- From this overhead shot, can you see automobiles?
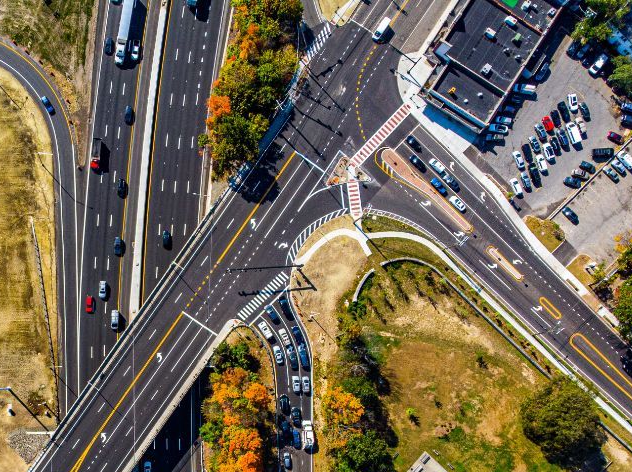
Yes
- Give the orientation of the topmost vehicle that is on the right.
diagonally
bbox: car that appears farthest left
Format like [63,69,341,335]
[41,96,54,113]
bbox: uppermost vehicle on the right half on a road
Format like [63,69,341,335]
[374,15,394,38]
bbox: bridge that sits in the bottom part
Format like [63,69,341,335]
[36,112,277,472]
